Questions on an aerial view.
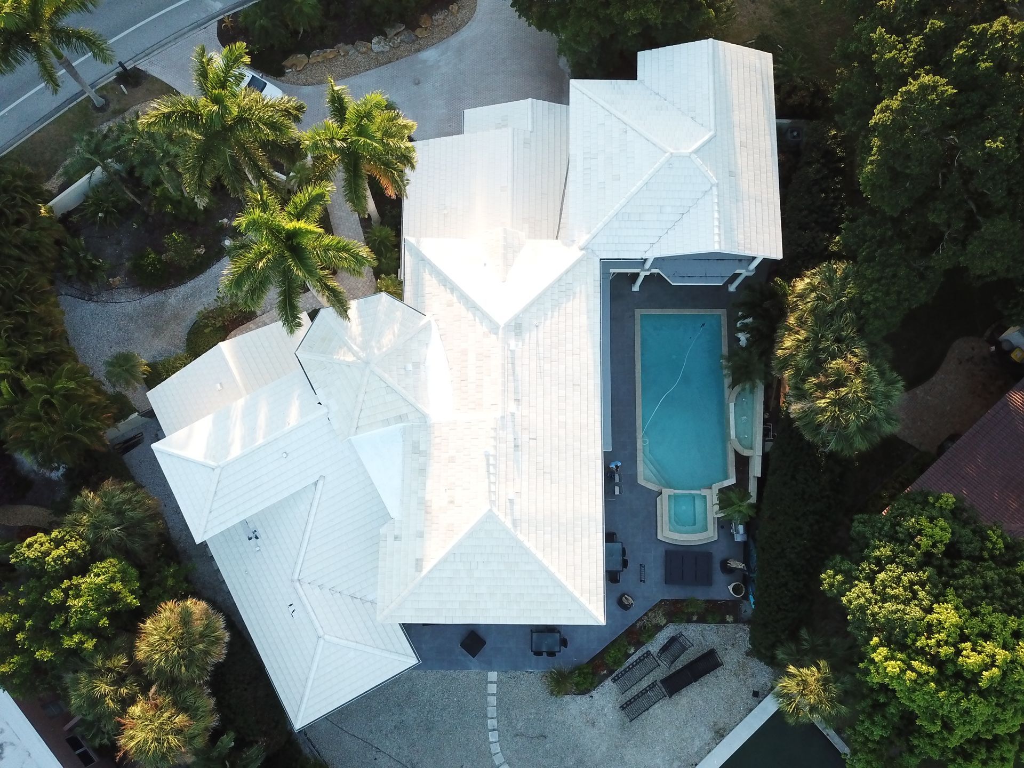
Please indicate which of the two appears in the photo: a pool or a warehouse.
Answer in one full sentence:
It is a pool that can be seen here.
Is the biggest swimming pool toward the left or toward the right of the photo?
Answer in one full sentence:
The biggest swimming pool appears in the right half of the scene.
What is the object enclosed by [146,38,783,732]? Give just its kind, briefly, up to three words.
house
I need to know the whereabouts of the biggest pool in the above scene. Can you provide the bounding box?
[635,309,735,494]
